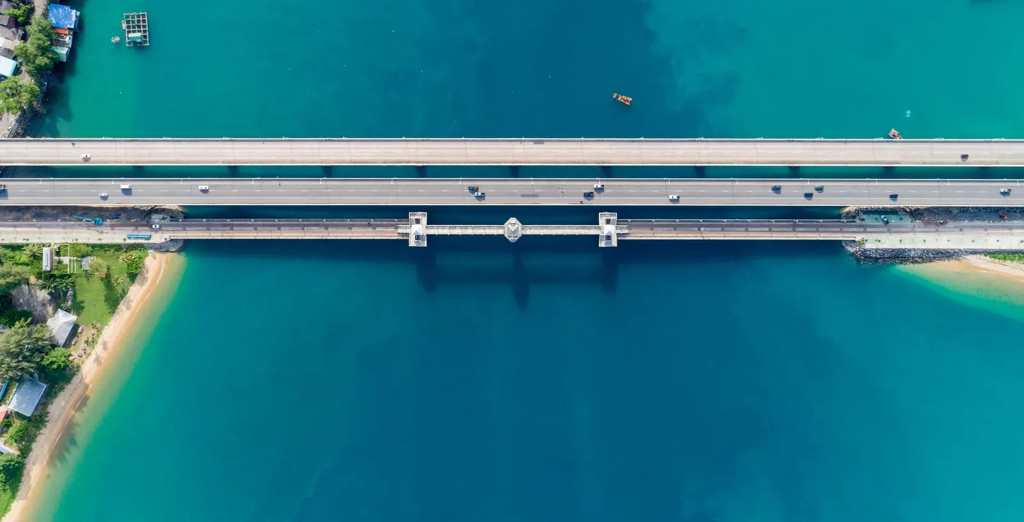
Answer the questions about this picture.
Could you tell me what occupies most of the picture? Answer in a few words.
water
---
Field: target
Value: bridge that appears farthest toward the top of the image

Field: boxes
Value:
[0,137,1024,167]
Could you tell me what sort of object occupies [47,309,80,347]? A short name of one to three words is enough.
building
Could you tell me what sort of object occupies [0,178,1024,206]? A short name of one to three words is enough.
bridge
